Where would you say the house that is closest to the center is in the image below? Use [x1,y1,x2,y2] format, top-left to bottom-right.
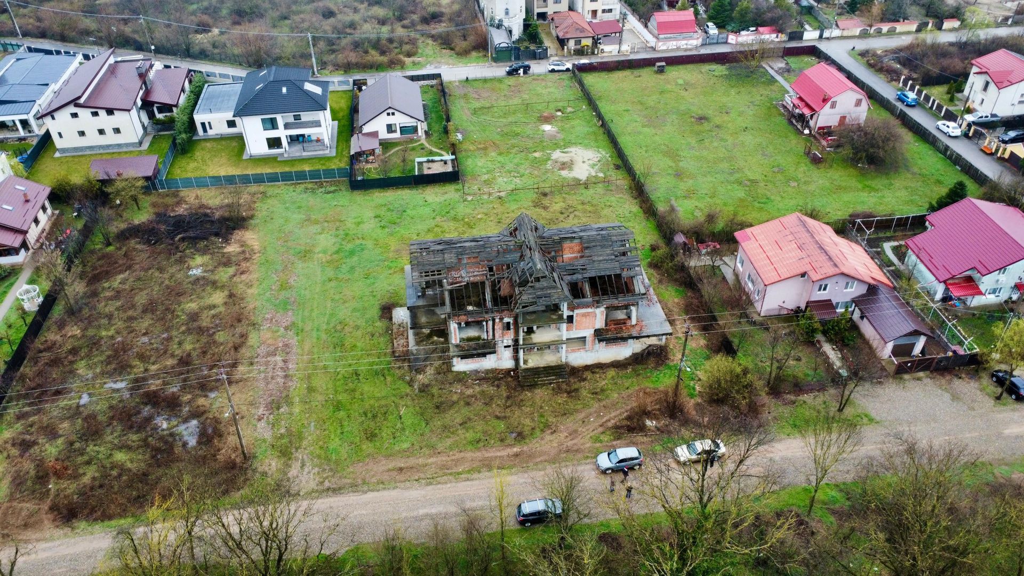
[391,211,672,386]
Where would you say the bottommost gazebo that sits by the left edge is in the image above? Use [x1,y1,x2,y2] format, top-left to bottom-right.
[11,284,44,314]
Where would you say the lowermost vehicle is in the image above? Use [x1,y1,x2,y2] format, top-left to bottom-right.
[514,498,567,528]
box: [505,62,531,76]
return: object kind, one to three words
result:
car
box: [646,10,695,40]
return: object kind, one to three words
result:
building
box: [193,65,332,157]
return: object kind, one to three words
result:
house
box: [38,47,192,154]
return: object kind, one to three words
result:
house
